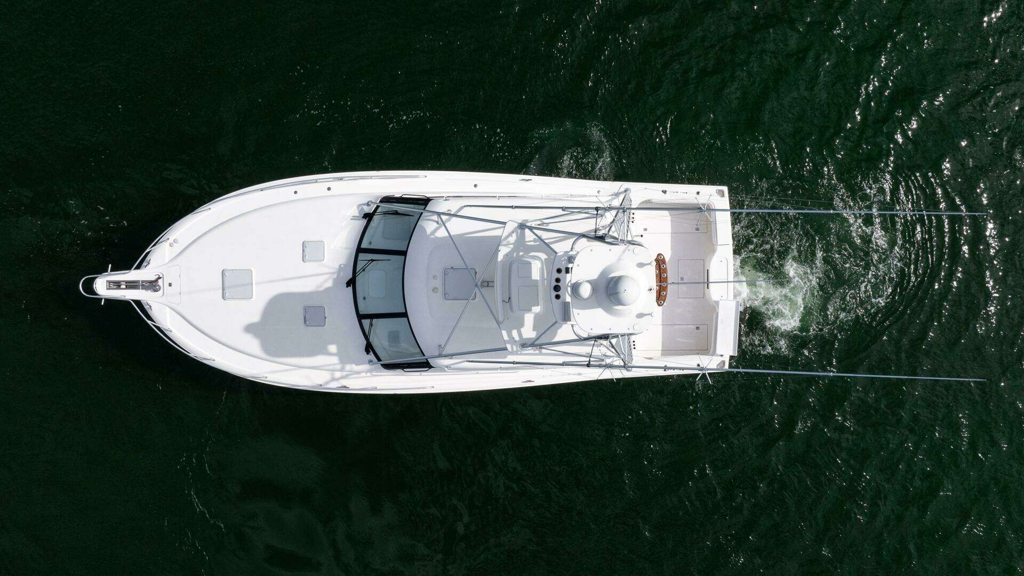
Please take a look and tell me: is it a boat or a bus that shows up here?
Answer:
boat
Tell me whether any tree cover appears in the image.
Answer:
No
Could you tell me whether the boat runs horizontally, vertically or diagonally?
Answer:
horizontally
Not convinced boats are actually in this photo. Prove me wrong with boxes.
[79,170,986,394]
